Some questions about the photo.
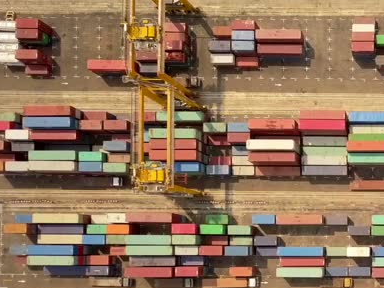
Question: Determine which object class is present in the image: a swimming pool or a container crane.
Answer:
container crane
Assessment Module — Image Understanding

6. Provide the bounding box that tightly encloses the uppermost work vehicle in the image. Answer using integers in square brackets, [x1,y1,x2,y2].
[3,8,17,23]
